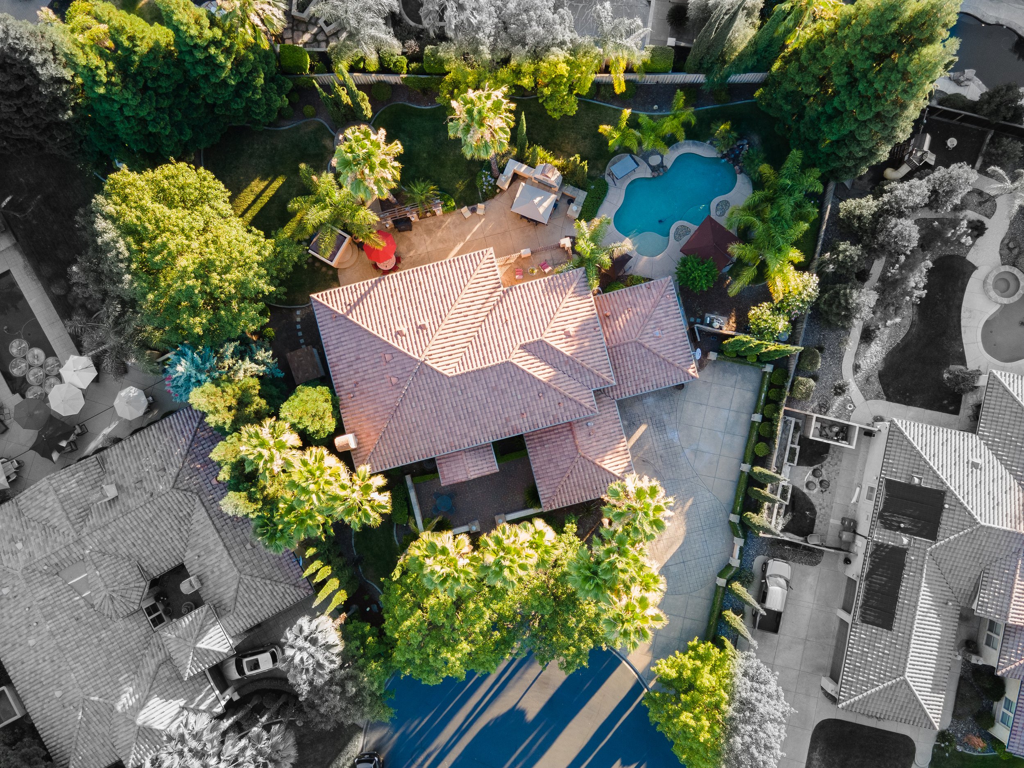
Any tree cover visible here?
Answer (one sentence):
Yes, there's tree cover in this view.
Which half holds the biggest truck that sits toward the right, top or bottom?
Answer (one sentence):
Seen from above, the biggest truck that sits toward the right lies in the bottom half of the view.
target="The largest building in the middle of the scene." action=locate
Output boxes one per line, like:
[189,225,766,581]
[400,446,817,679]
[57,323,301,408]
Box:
[308,246,699,511]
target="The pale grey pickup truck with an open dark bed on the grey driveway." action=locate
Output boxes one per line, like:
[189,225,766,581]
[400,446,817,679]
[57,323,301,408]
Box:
[751,553,793,638]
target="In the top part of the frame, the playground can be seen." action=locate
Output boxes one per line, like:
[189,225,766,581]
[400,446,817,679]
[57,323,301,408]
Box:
[852,118,987,192]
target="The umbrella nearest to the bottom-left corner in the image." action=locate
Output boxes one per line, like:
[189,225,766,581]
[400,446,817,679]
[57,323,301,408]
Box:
[0,461,25,491]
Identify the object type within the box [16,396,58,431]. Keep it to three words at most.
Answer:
umbrella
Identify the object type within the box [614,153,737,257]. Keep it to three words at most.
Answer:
swimming pool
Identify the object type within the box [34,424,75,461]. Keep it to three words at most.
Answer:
umbrella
